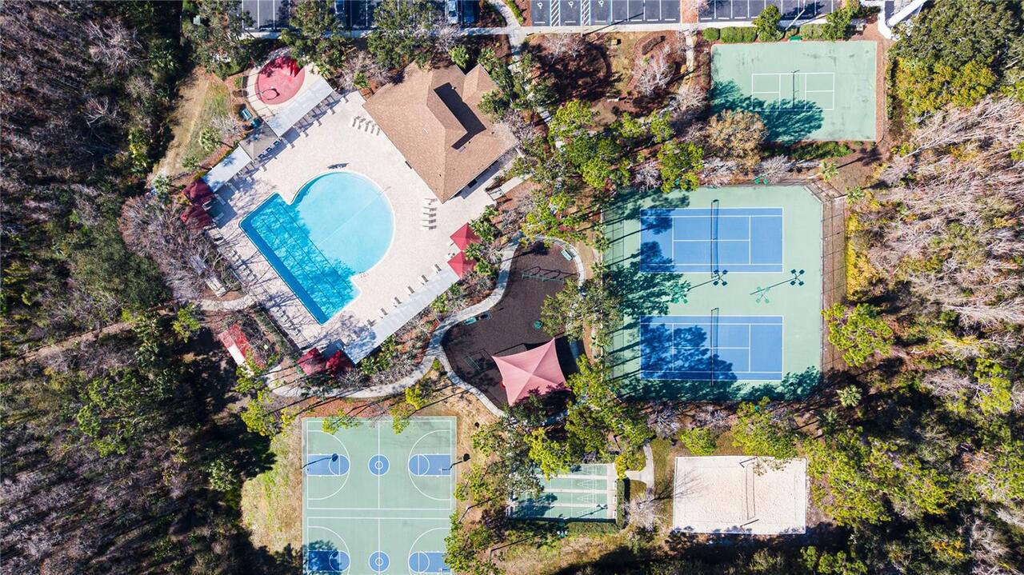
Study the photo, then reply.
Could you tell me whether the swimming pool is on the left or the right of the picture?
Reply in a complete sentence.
The swimming pool is on the left side of the image.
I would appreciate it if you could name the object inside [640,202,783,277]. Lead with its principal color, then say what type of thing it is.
blue tennis court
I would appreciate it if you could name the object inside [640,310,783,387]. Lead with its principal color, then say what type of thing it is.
blue tennis court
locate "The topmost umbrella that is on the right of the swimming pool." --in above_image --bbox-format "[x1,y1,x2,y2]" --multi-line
[450,222,479,252]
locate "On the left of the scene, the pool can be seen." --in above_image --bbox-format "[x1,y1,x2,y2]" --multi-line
[239,170,395,326]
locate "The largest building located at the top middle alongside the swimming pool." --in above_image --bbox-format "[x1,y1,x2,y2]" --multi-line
[363,45,517,203]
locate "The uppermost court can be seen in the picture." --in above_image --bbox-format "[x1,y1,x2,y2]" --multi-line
[711,41,877,143]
